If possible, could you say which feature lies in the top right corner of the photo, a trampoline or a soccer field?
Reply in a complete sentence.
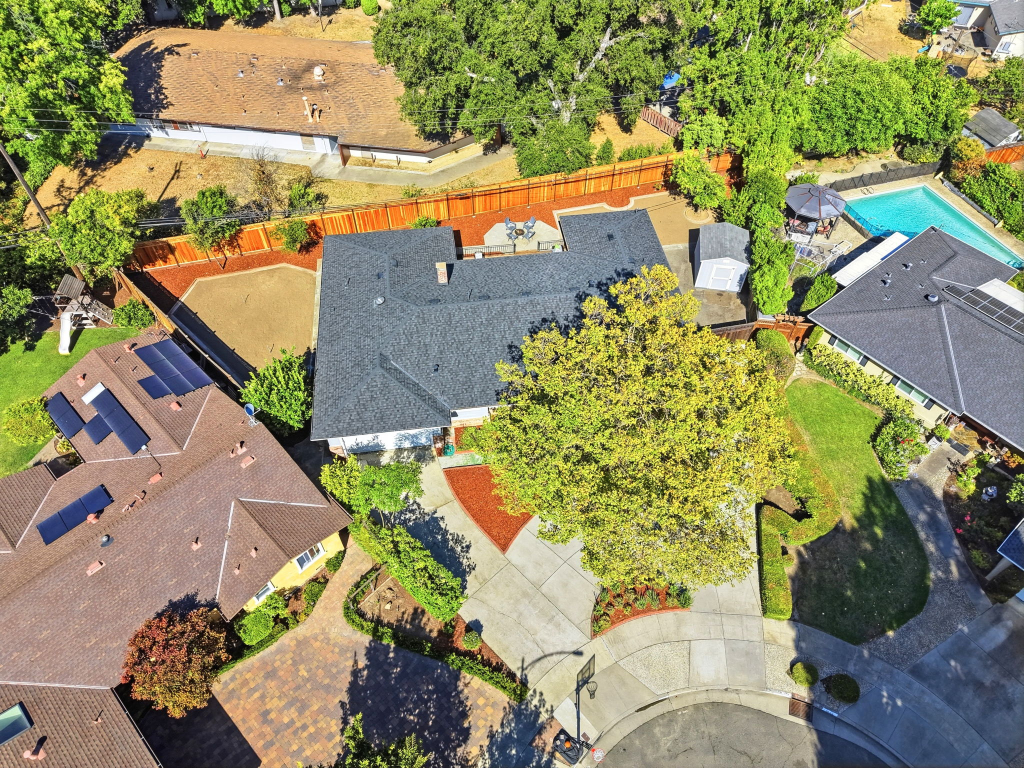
The feature located in the top right corner of the photo is a trampoline.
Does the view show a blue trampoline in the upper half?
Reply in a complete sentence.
No, no blue trampoline is visible in the upper half.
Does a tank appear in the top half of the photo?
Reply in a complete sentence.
No, there is no tank in the top half of the photo.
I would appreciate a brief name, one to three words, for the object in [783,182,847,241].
gazebo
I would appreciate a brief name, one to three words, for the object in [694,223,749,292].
shed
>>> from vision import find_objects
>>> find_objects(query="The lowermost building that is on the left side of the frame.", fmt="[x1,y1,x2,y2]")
[0,332,357,768]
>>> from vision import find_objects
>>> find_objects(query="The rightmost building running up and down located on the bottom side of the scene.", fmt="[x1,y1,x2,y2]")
[989,514,1024,600]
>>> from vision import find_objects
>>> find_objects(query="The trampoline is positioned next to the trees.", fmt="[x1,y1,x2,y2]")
[938,36,990,79]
